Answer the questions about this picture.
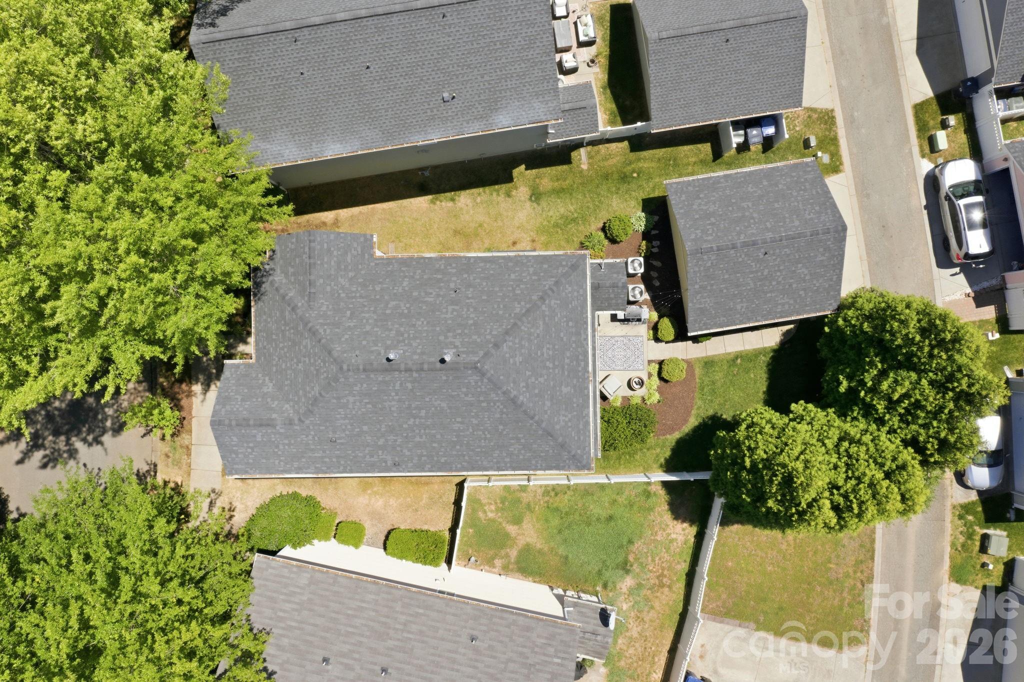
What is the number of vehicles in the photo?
two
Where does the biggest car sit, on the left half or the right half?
right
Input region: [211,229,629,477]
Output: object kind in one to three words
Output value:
house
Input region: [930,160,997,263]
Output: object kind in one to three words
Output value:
car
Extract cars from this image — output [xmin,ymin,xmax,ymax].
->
[956,406,1009,491]
[930,160,997,263]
